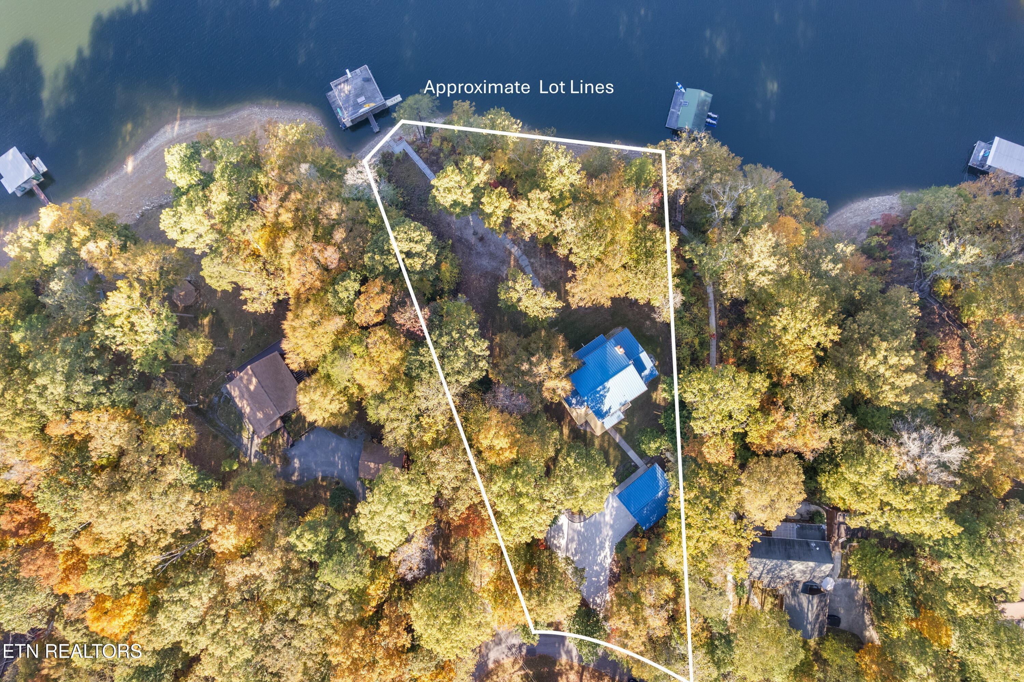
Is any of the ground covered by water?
Yes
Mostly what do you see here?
trees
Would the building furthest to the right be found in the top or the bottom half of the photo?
top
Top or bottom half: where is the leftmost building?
top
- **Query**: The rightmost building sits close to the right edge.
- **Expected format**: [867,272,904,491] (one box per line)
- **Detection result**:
[967,137,1024,188]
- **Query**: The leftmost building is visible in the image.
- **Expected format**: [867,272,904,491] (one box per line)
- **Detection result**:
[0,146,45,199]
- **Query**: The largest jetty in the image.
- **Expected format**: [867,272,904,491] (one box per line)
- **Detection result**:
[326,62,387,131]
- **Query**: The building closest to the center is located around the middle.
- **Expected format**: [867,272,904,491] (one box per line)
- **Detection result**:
[563,327,659,437]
